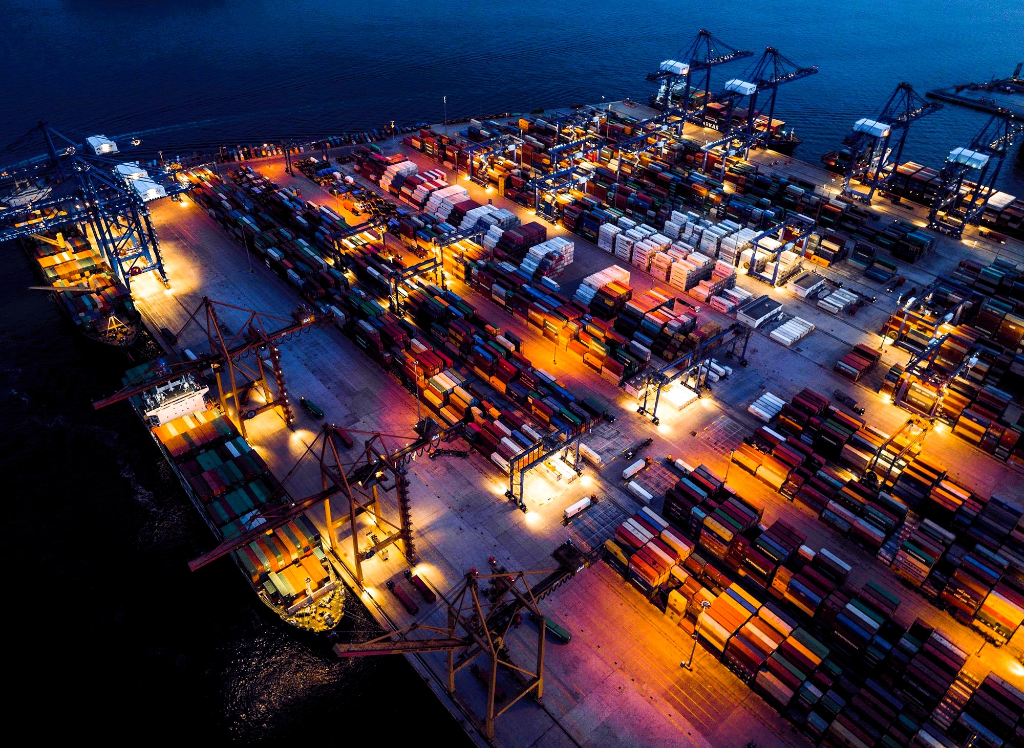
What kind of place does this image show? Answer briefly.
port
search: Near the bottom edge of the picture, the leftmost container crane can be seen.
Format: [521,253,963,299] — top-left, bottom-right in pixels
[326,525,624,748]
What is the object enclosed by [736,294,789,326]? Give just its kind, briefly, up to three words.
building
